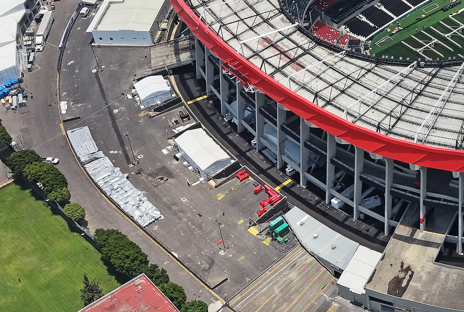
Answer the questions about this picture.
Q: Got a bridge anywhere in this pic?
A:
Yes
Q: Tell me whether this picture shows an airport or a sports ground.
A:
sports ground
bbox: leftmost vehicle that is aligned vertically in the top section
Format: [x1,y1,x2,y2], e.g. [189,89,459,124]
[35,7,51,45]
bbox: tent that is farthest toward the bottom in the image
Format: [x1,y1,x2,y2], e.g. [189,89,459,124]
[175,128,230,177]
